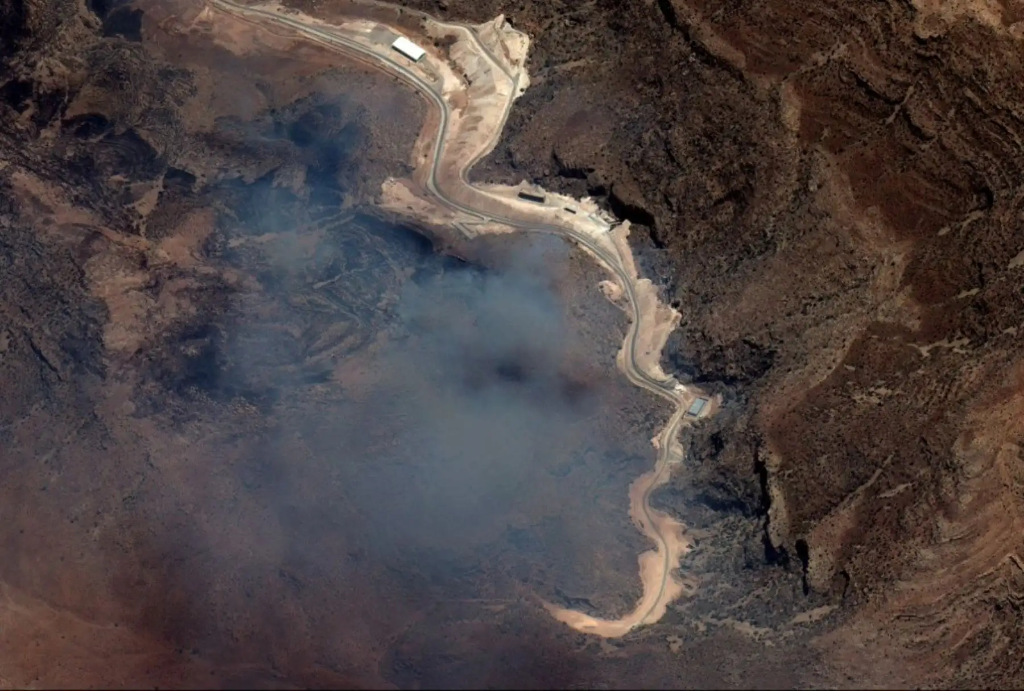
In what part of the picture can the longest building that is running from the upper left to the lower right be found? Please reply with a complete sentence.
The longest building that is running from the upper left to the lower right is located in the top region of the scene.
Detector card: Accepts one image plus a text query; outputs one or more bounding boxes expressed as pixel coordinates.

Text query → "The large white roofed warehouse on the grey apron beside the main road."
[393,36,424,60]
